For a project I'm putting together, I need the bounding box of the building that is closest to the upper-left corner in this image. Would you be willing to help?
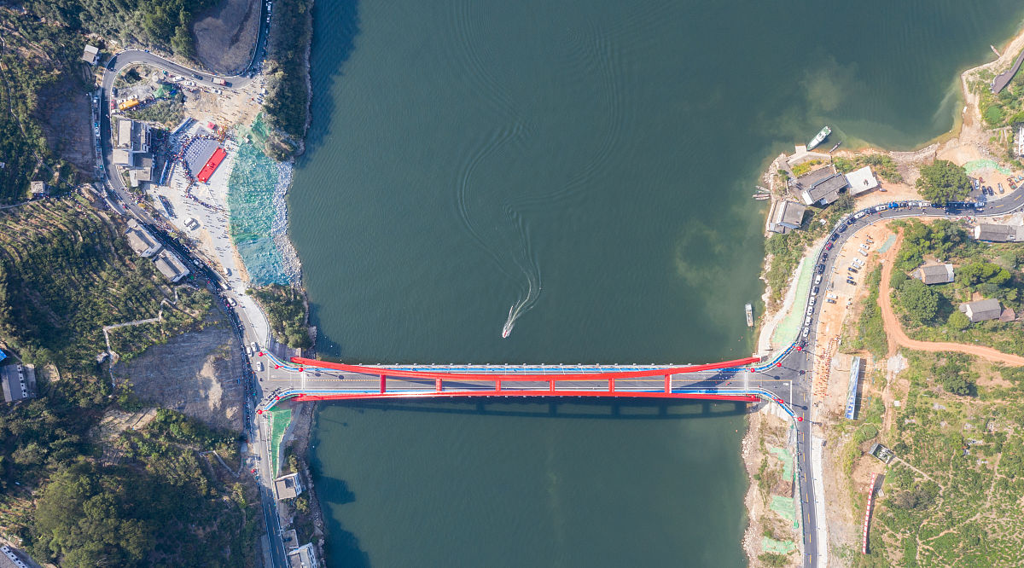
[82,44,105,68]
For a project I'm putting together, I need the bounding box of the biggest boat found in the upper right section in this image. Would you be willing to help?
[808,126,831,149]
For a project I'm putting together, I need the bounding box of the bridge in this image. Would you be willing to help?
[260,338,800,421]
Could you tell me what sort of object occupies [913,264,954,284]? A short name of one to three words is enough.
house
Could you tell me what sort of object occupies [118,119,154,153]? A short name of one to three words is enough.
house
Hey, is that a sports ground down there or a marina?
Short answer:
marina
